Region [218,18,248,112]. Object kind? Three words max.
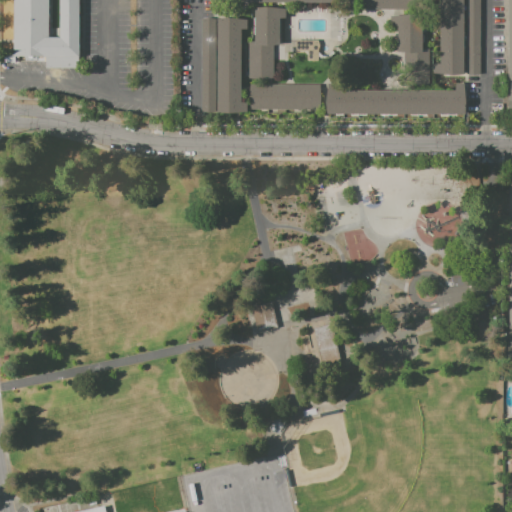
building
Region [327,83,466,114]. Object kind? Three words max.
building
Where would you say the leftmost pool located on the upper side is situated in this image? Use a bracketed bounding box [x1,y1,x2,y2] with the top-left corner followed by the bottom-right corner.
[292,12,348,55]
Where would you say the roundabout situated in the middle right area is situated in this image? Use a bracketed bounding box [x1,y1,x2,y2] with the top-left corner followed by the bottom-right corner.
[404,266,470,313]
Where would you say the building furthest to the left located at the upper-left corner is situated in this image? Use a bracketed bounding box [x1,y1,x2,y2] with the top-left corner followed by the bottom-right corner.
[14,0,80,67]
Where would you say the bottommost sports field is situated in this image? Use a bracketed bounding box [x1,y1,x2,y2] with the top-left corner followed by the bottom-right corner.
[113,478,186,512]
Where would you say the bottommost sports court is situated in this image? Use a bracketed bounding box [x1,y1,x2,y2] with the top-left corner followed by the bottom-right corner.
[344,230,378,263]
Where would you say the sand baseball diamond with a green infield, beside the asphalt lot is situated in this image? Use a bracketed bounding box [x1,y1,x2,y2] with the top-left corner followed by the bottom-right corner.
[284,412,351,486]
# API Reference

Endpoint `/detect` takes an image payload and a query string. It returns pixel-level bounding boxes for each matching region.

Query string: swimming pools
[506,382,512,418]
[292,12,348,55]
